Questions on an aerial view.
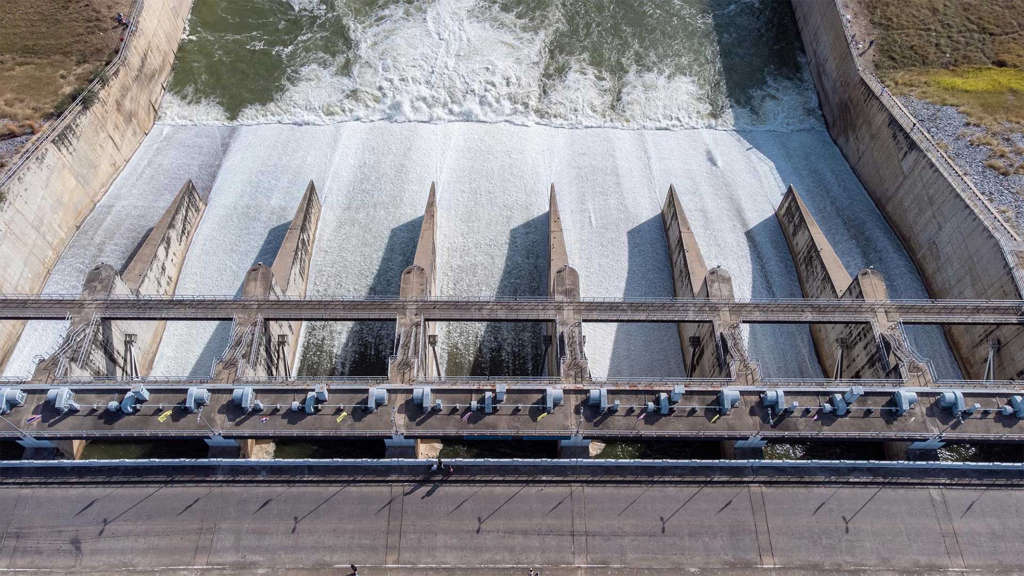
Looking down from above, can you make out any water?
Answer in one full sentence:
Yes, there's water in this view.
